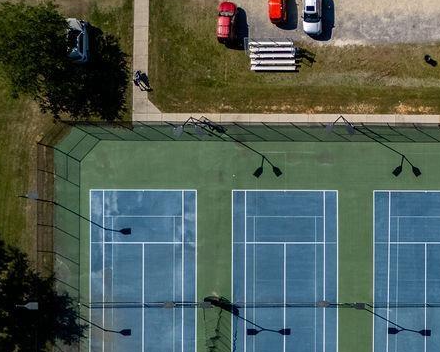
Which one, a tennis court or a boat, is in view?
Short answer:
tennis court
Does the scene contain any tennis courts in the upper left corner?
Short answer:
No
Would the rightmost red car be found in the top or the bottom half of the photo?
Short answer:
top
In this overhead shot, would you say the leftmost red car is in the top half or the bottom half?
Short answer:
top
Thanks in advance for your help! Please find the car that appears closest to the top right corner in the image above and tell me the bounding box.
[301,0,324,37]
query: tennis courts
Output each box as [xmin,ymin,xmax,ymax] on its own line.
[372,191,440,352]
[89,190,197,352]
[231,152,338,352]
